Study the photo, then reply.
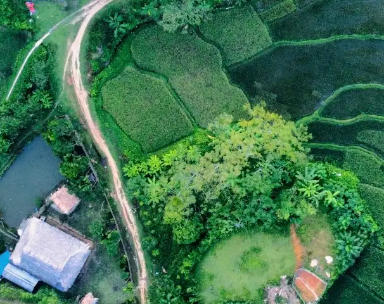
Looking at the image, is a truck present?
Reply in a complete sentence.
No, there appears to be no truck in this shot.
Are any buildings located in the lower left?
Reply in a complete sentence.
Yes, in the lower left there is a building.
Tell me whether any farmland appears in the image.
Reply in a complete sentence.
Yes, there is farmland in the image.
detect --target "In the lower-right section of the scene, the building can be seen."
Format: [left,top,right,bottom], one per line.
[295,267,327,304]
